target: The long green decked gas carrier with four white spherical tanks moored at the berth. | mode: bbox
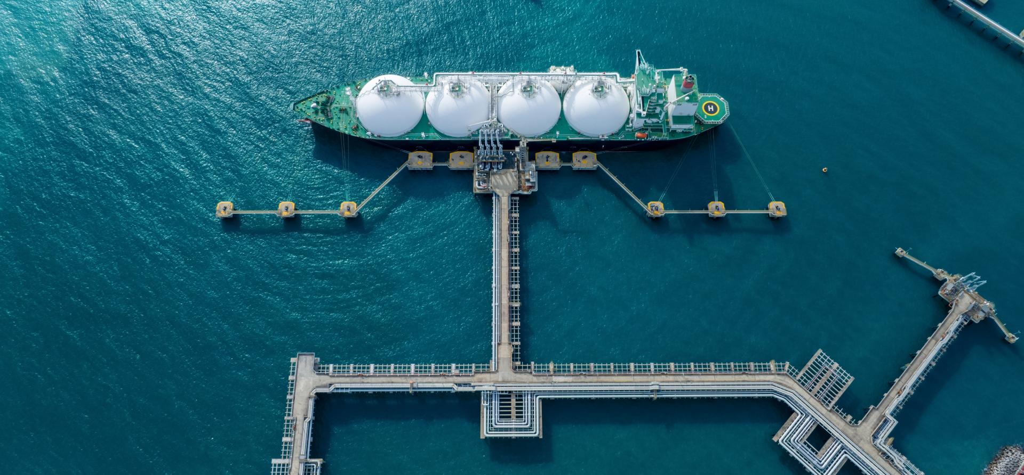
[289,50,730,150]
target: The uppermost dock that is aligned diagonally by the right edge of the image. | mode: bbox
[864,292,974,419]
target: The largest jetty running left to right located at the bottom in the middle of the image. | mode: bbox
[316,359,790,401]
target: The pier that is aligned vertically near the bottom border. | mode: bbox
[269,352,326,475]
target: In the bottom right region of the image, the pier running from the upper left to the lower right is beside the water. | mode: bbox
[770,366,922,475]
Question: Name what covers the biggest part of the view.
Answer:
water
